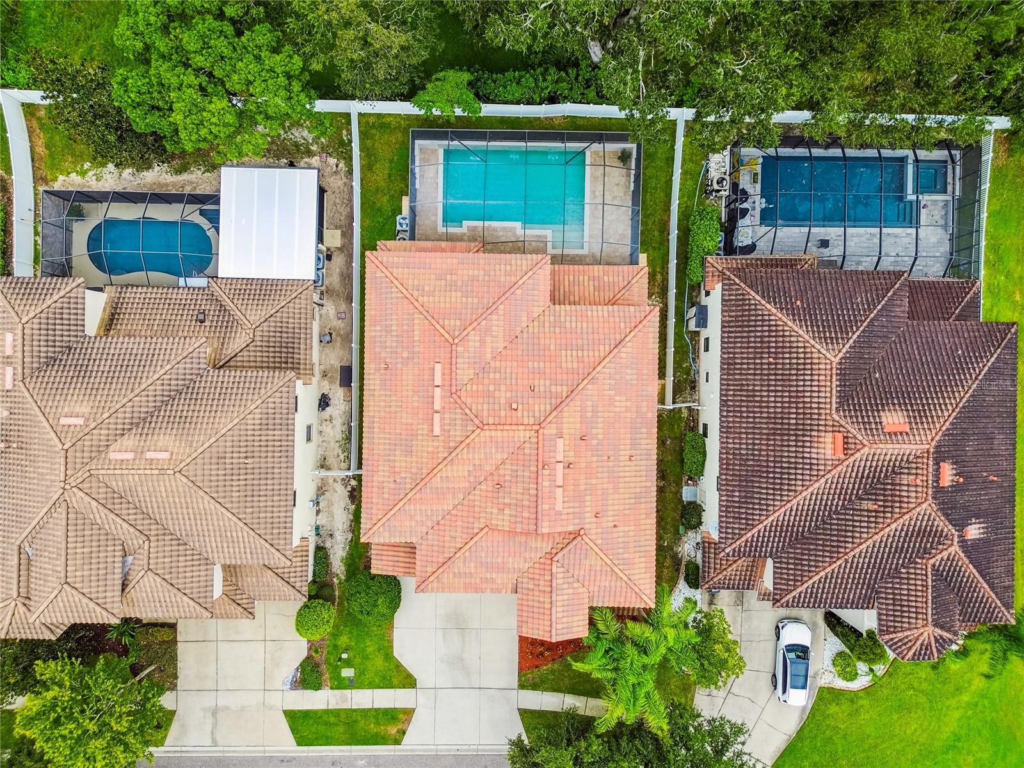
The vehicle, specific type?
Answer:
automobile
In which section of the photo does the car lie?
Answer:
bottom right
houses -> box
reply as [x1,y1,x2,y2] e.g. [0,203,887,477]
[696,255,1020,663]
[359,239,662,643]
[0,275,320,641]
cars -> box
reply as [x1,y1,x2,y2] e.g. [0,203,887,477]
[769,614,820,703]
